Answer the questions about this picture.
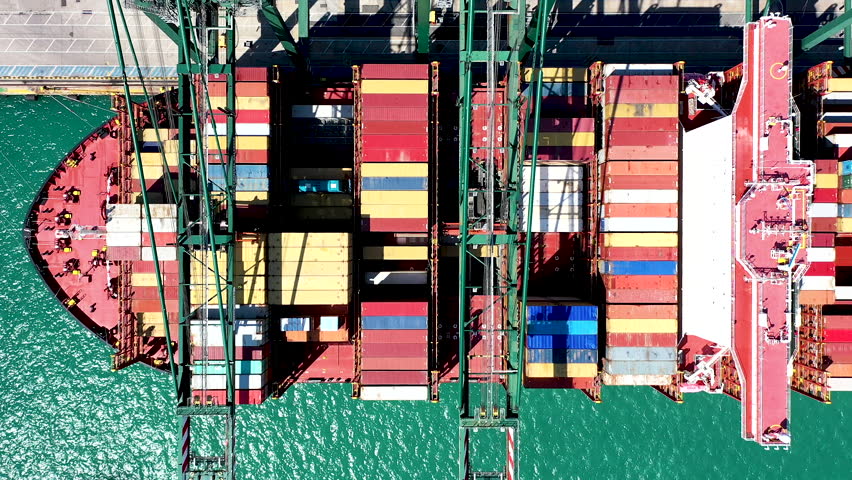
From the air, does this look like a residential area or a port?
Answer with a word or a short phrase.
port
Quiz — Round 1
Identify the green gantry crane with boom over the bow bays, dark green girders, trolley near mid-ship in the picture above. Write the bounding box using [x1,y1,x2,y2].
[121,0,310,480]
